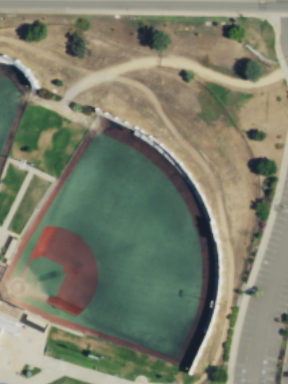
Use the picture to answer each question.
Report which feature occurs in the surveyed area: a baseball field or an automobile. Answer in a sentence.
Of the two, only a baseball field appears.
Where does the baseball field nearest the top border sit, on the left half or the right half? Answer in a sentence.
The baseball field nearest the top border sits on the left side.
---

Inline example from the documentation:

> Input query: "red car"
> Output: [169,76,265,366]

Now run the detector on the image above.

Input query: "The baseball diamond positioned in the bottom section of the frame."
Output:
[1,110,218,374]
